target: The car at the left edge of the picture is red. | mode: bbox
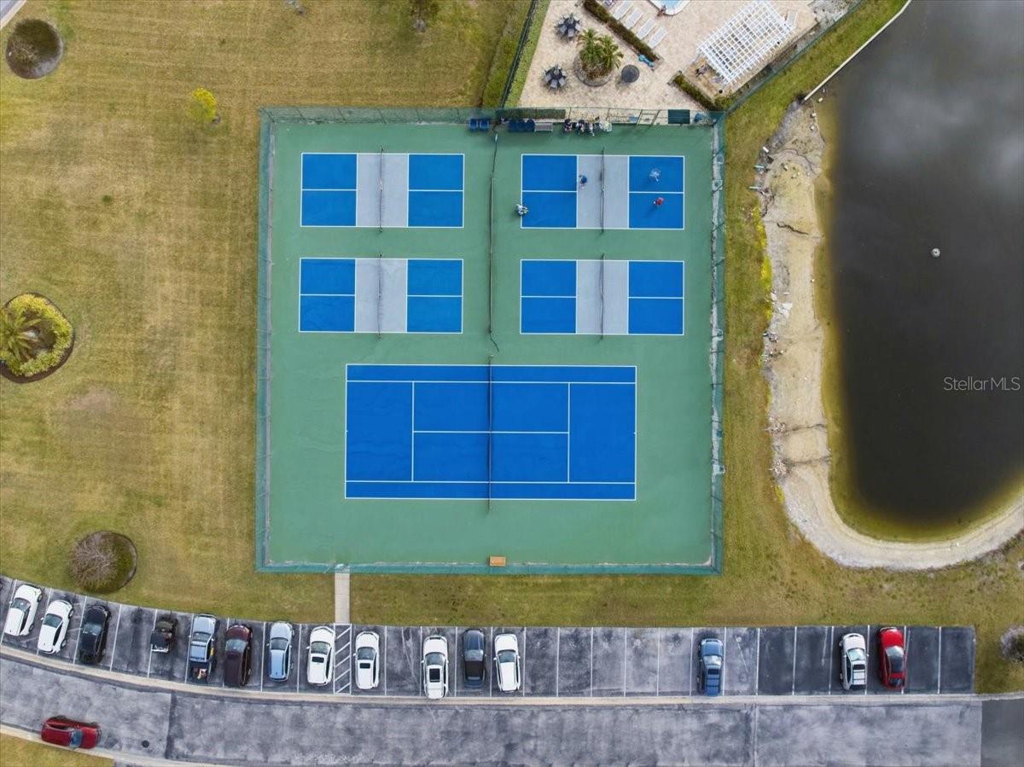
[39,716,103,751]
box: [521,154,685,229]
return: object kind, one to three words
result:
sports court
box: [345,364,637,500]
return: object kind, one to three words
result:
tennis court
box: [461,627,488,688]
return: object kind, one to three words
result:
car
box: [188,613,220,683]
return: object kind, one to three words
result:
truck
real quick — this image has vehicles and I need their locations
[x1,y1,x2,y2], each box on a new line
[697,637,726,697]
[494,632,521,692]
[876,627,909,689]
[150,617,178,654]
[352,629,380,690]
[461,627,488,688]
[76,604,112,665]
[35,597,74,656]
[838,631,870,691]
[4,582,44,638]
[222,622,254,688]
[39,716,103,751]
[307,625,336,686]
[421,634,450,699]
[266,621,295,681]
[188,613,220,683]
